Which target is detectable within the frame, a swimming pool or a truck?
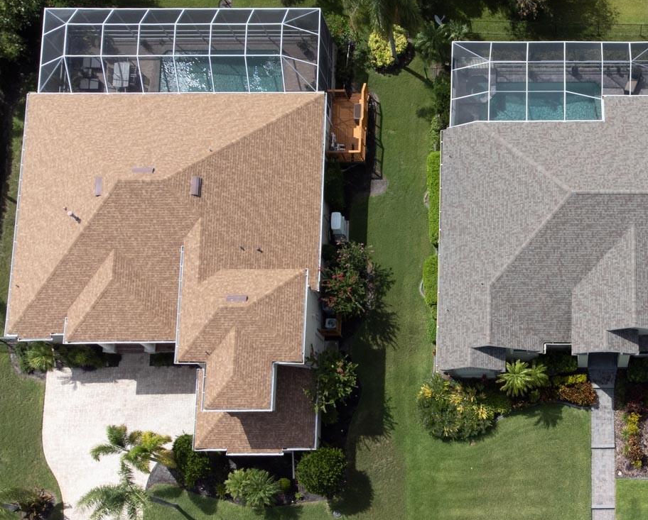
swimming pool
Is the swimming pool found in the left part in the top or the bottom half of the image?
top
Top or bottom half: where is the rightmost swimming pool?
top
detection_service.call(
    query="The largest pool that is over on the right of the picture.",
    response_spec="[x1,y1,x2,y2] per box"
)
[486,77,605,119]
